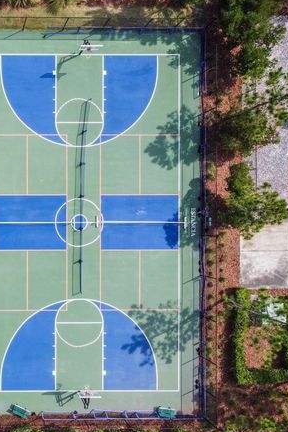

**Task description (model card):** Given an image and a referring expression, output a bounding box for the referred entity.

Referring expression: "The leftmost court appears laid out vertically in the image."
[0,134,68,311]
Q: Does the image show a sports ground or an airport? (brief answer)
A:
sports ground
